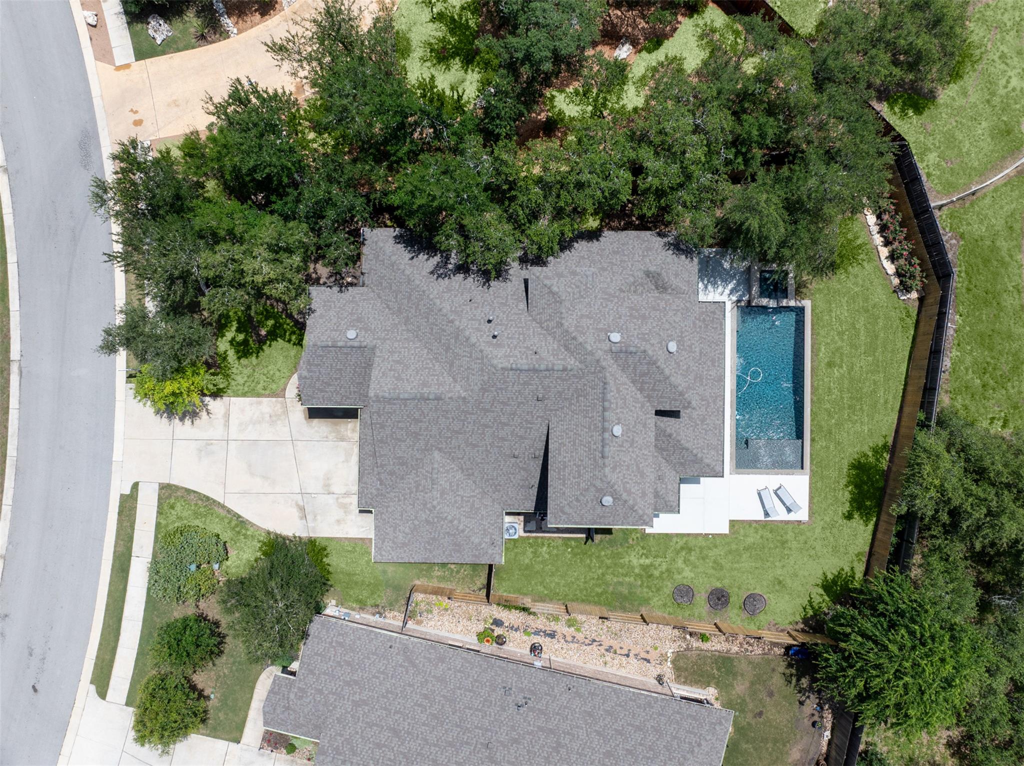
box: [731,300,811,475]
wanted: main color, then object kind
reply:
blue swimming pool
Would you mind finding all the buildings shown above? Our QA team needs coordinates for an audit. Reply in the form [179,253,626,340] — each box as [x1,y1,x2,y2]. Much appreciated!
[298,226,725,565]
[263,615,734,766]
